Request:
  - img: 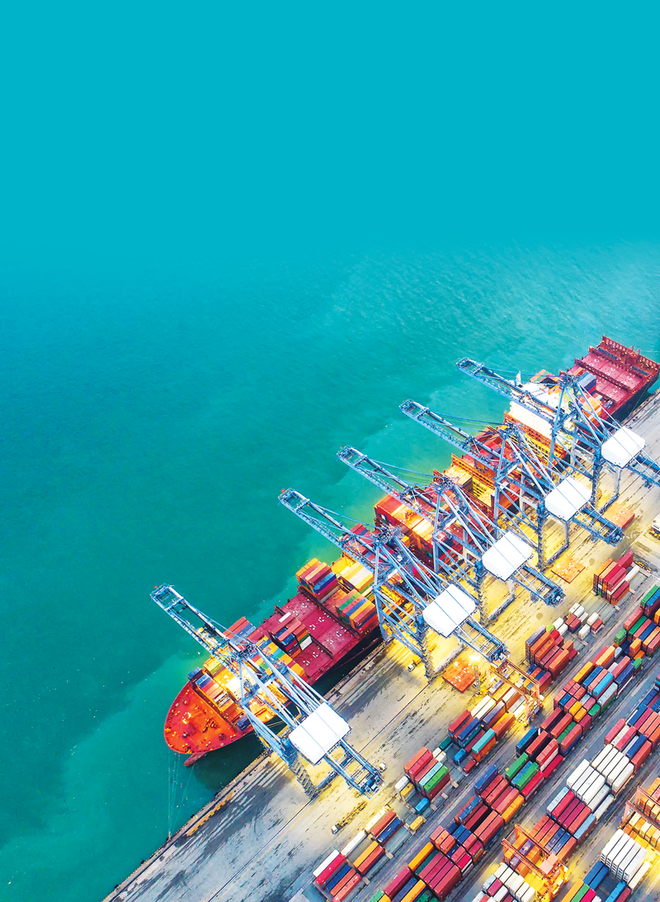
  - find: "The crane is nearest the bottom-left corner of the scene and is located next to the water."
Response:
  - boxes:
[144,578,390,805]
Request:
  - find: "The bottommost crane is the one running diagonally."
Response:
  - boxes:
[501,822,570,901]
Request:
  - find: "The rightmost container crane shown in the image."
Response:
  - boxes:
[622,788,660,837]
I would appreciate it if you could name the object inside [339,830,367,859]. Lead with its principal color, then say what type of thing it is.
white shipping container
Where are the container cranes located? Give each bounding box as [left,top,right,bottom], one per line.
[622,788,660,837]
[456,354,660,522]
[396,397,628,577]
[274,484,515,687]
[333,443,570,633]
[501,822,570,901]
[144,578,390,805]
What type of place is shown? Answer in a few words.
port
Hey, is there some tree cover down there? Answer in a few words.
No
